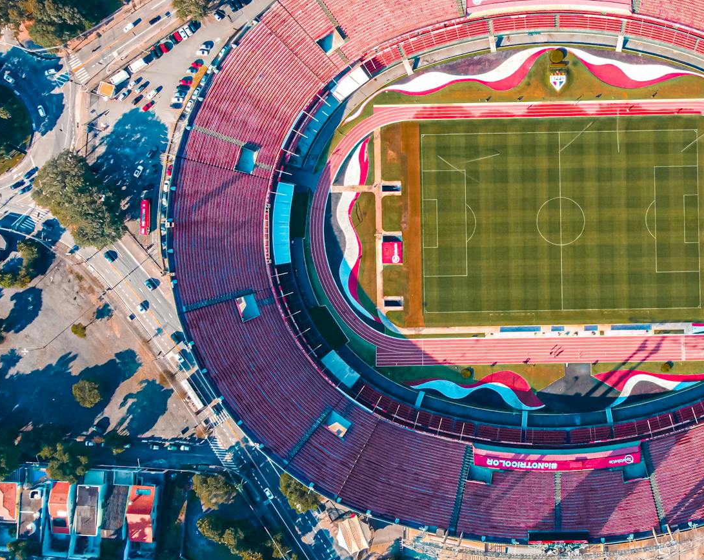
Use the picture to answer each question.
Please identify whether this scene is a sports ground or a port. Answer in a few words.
sports ground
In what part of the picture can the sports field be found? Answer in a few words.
right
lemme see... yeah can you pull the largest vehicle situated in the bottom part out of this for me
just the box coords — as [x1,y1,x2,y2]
[179,379,205,407]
